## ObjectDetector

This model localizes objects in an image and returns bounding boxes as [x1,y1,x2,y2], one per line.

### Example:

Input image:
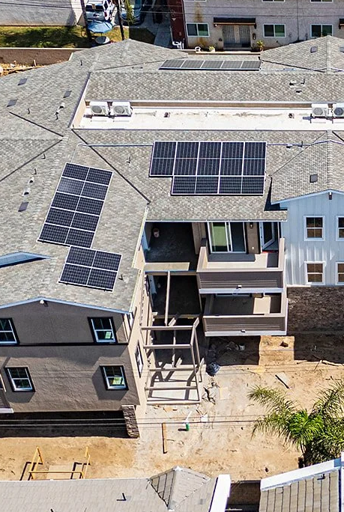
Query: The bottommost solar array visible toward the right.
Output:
[147,140,266,194]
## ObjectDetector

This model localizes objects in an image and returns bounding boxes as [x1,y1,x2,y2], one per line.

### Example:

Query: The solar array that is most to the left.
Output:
[37,161,122,290]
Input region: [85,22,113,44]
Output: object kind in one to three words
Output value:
umbrella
